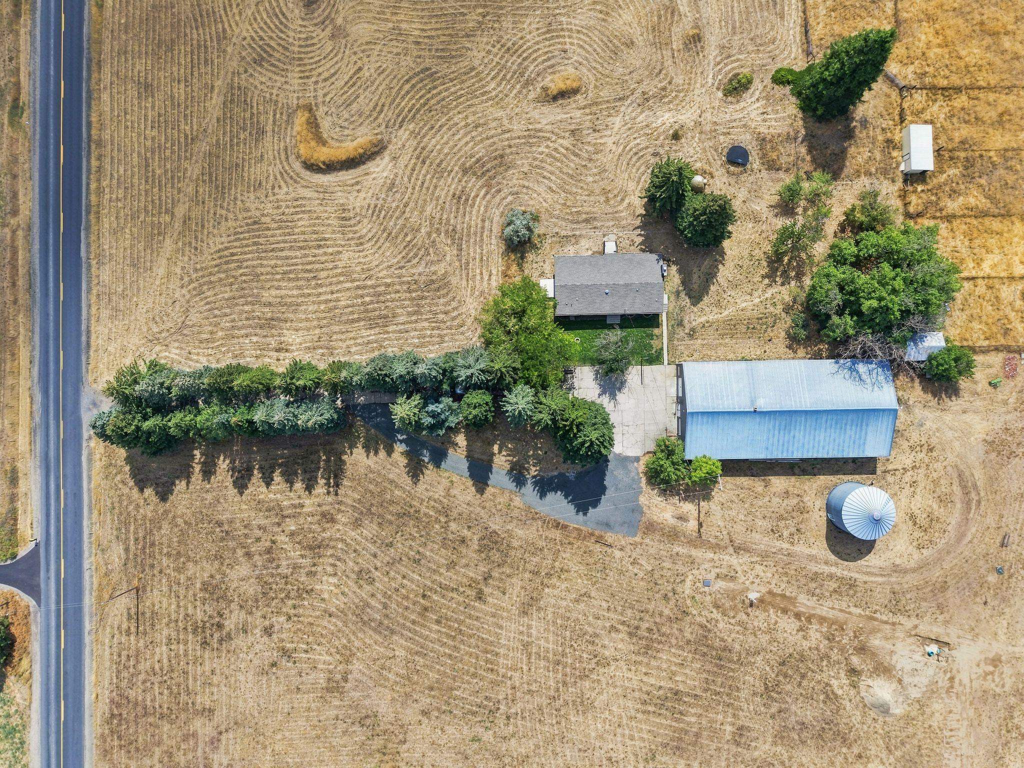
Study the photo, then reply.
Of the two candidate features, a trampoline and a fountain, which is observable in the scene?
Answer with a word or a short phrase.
trampoline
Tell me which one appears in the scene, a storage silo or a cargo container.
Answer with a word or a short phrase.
storage silo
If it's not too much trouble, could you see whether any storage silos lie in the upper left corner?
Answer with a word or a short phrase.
No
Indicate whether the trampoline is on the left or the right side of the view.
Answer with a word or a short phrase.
right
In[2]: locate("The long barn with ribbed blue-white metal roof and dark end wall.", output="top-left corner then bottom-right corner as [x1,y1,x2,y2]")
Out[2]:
[677,358,900,461]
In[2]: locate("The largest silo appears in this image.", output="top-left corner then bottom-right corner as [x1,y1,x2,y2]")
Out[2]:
[825,480,897,541]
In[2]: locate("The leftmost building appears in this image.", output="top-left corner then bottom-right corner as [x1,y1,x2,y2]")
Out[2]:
[541,239,667,324]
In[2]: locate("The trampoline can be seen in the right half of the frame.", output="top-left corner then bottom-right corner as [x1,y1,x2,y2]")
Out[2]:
[726,145,751,170]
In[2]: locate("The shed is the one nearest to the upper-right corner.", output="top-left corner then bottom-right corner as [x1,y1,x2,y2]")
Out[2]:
[899,124,933,175]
